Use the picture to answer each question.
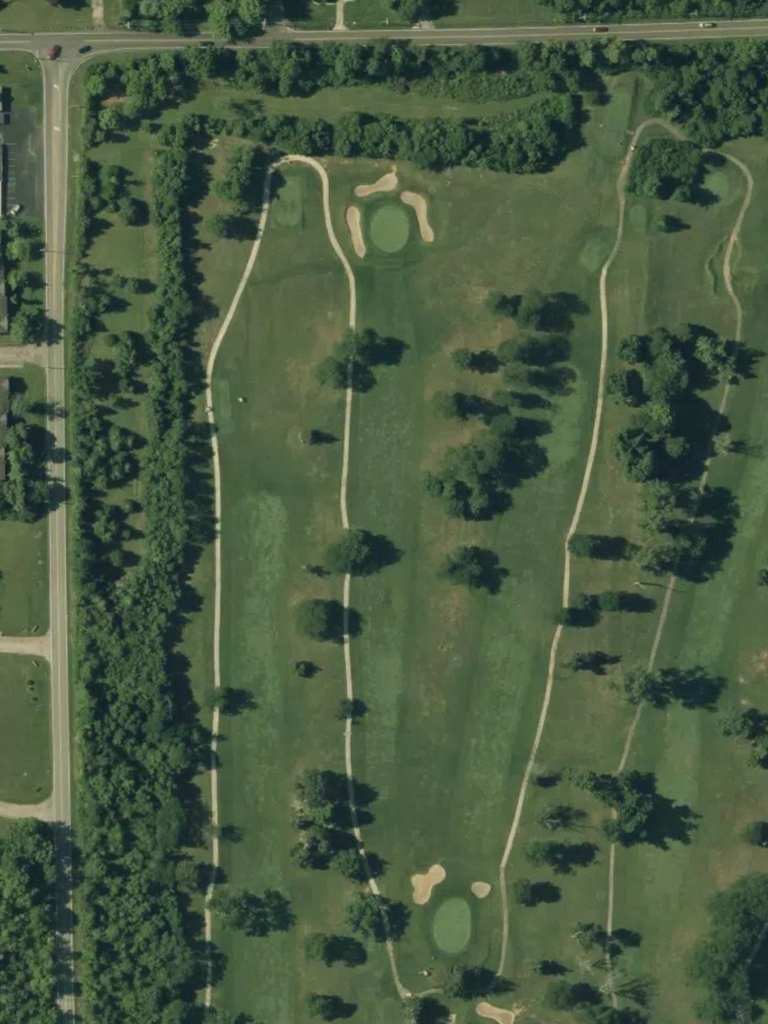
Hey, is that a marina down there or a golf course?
golf course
